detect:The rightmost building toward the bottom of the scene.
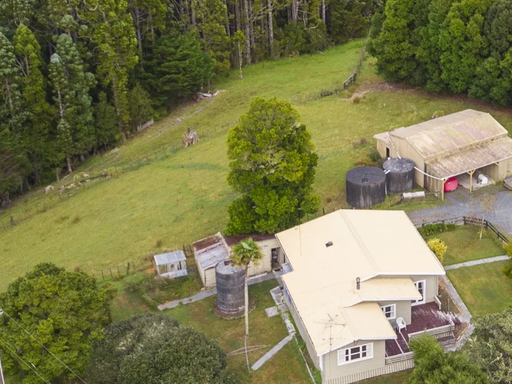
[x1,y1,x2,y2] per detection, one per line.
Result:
[276,208,458,384]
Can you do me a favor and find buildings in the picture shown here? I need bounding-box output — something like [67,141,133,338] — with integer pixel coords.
[276,208,458,384]
[368,109,512,201]
[153,252,189,284]
[189,229,231,289]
